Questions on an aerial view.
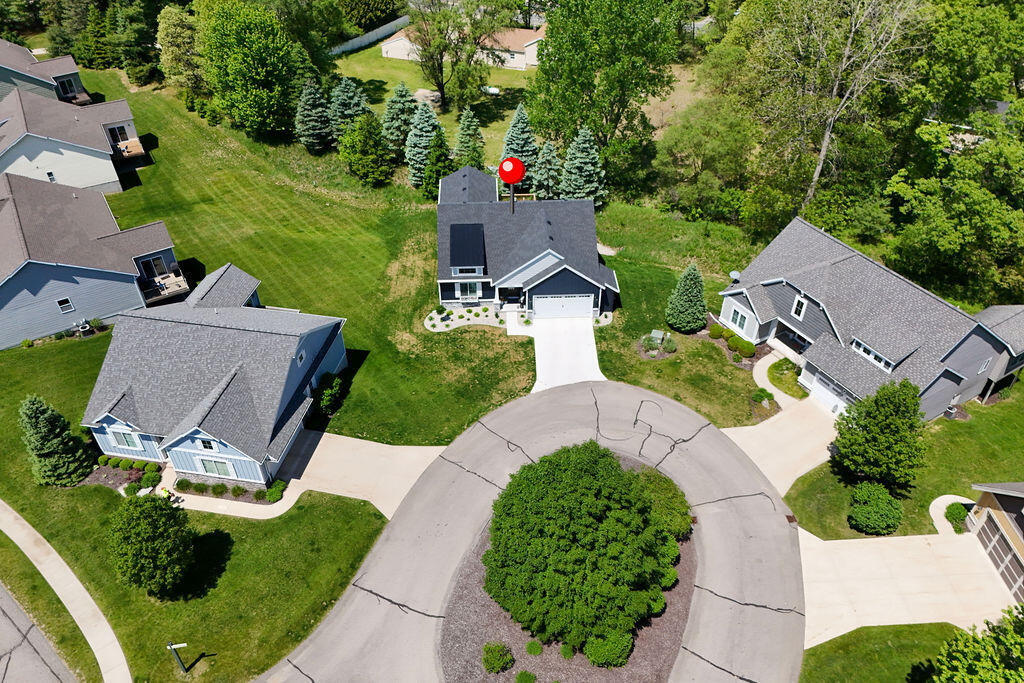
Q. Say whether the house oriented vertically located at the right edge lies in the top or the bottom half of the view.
bottom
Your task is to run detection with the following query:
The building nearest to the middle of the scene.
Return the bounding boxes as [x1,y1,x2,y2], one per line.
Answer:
[434,165,620,321]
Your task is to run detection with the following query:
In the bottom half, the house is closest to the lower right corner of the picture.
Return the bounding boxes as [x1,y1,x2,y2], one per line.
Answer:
[967,485,1024,619]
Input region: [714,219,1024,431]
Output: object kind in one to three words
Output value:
house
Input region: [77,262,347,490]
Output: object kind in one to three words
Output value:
house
